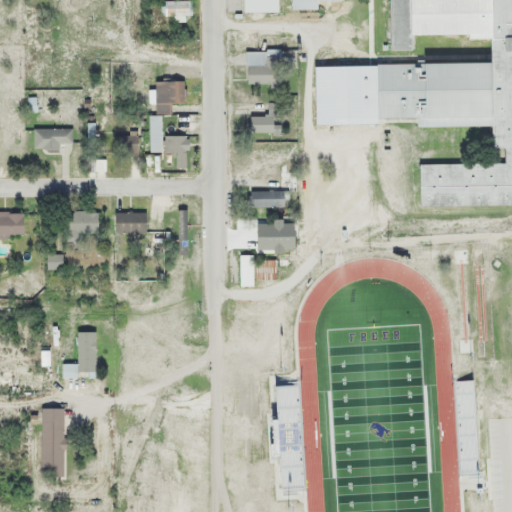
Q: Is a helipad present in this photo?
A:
No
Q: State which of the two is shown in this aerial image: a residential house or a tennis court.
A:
residential house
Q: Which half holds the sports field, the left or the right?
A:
right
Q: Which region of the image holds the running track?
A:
bottom right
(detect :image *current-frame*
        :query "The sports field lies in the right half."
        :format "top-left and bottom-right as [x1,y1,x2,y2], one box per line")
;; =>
[316,278,444,512]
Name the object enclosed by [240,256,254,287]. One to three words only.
shed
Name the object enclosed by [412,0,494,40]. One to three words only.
building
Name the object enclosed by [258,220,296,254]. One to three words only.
house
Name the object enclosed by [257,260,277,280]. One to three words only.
barn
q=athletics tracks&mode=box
[299,258,460,512]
